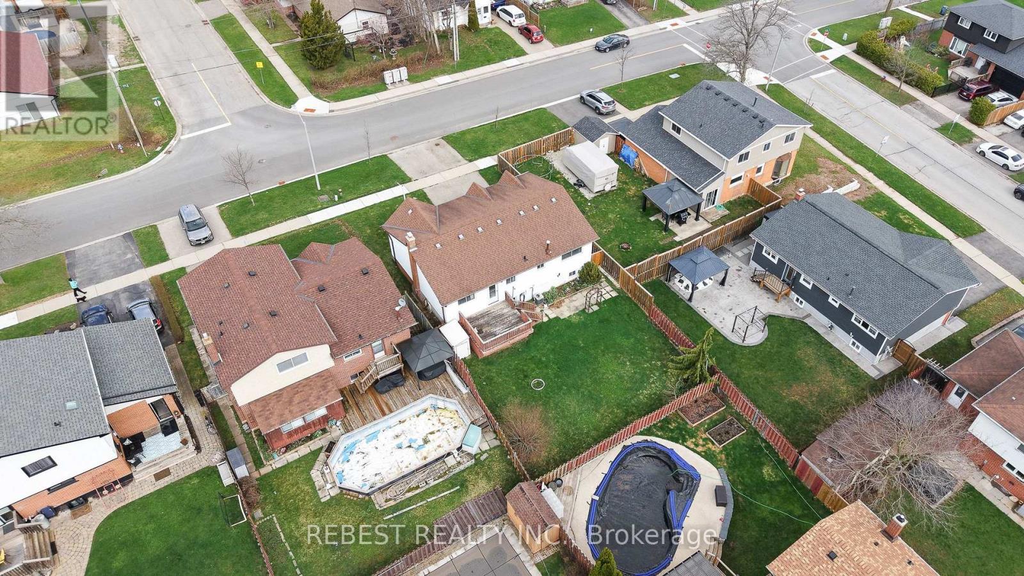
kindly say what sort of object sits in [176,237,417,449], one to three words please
house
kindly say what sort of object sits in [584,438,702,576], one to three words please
swimming pool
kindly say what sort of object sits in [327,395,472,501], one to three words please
swimming pool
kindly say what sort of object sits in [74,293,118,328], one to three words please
car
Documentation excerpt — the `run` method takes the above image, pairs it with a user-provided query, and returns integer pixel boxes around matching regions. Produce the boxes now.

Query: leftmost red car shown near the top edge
[517,22,546,42]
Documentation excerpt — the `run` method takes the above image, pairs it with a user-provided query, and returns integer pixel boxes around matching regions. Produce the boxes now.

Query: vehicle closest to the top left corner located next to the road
[172,202,213,248]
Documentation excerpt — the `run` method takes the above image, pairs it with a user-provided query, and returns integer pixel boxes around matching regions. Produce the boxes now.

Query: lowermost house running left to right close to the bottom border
[766,499,939,576]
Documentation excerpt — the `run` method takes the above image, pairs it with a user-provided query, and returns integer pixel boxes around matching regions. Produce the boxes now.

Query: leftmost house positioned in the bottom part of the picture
[0,317,186,519]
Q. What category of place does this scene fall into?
residential area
